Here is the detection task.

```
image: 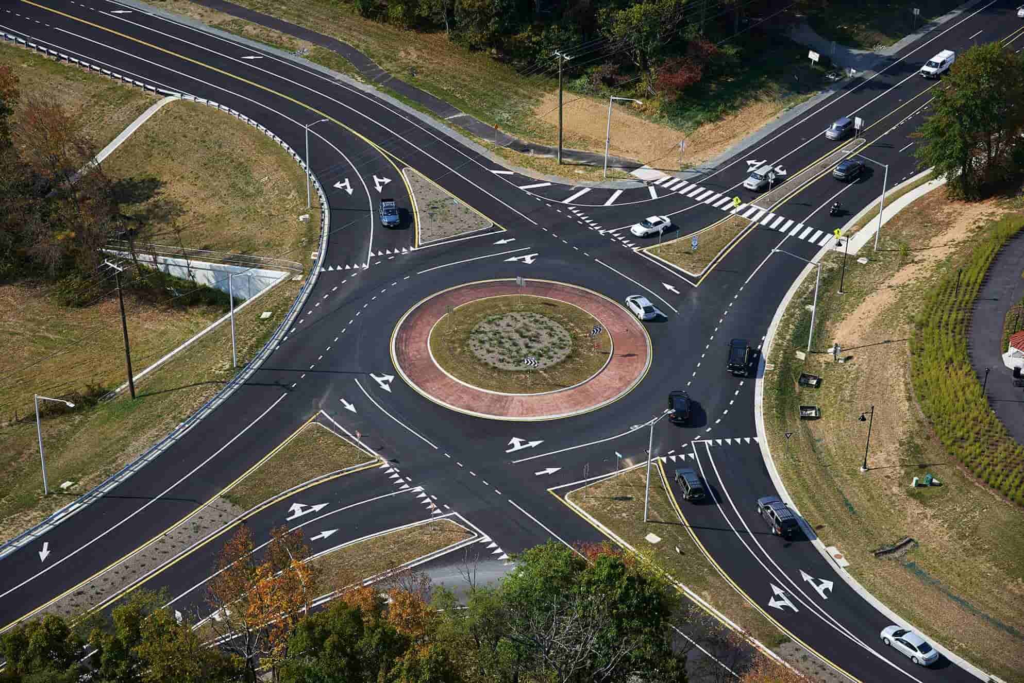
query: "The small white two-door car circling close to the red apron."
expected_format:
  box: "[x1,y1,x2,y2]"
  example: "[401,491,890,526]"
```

[623,294,659,319]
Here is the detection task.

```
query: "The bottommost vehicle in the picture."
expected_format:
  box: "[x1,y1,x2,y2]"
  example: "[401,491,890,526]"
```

[878,624,940,667]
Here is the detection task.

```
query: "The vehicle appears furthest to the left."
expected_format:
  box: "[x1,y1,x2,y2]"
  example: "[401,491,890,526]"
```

[380,190,400,222]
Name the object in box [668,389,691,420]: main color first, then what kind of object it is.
black car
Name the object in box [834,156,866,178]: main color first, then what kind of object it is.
black car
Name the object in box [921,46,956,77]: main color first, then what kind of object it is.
white truck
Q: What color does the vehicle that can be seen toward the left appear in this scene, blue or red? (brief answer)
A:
blue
